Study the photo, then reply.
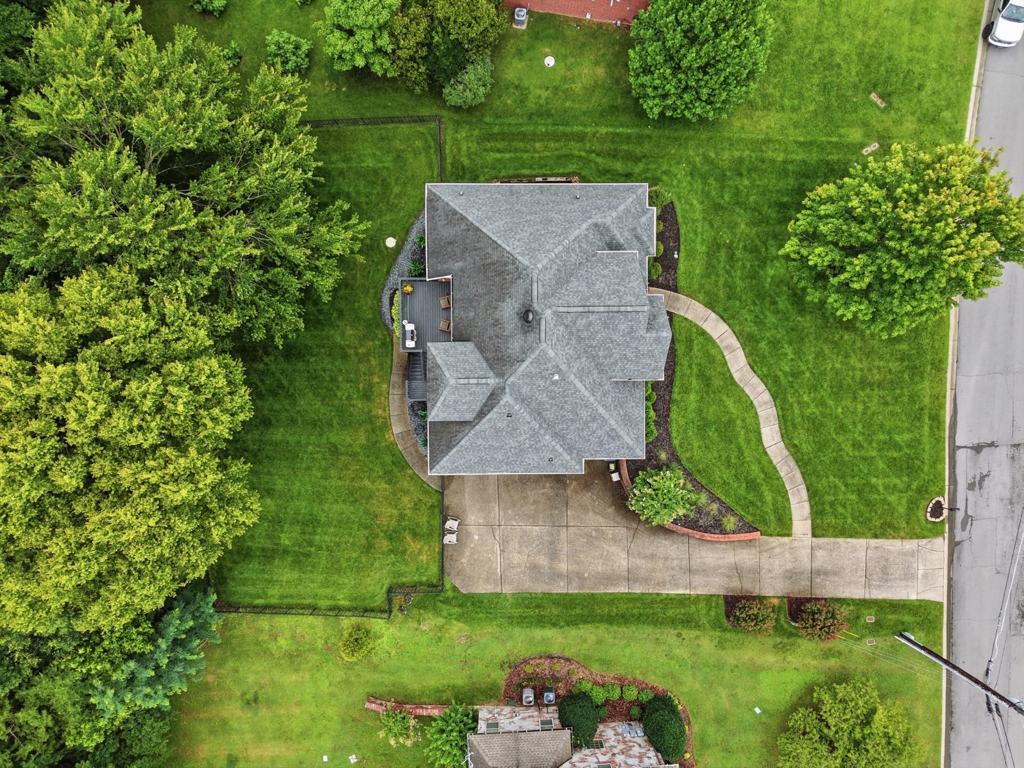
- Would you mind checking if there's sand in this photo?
No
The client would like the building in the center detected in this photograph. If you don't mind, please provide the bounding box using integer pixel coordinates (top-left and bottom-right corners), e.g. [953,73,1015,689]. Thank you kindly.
[424,182,672,476]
